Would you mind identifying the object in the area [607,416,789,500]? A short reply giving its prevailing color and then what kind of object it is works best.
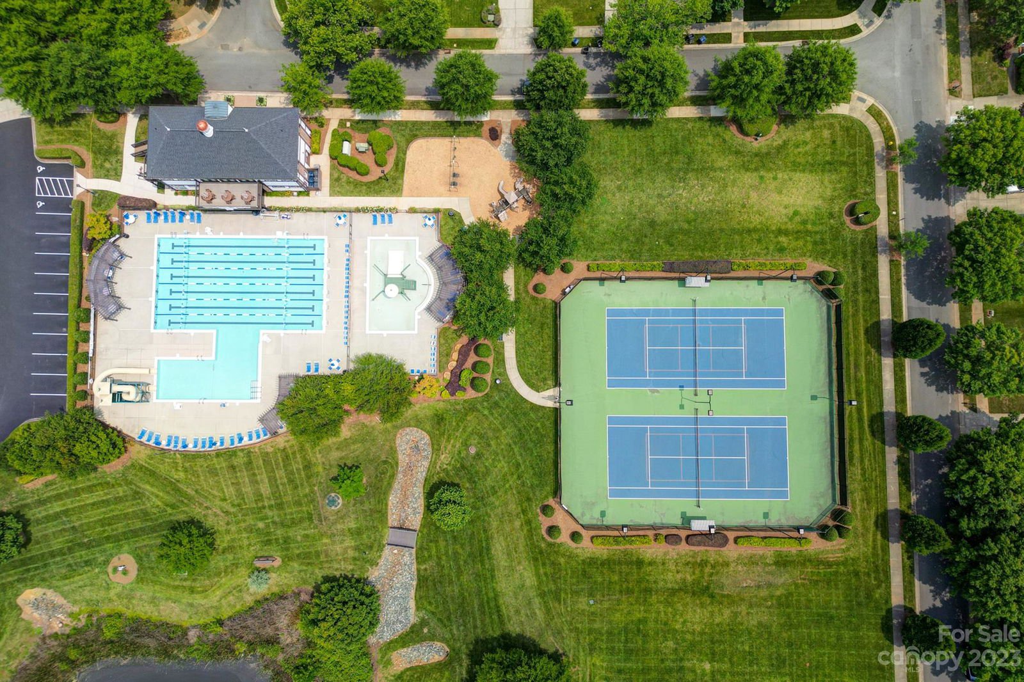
blue tennis court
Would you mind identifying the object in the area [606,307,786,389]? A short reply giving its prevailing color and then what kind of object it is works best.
blue tennis court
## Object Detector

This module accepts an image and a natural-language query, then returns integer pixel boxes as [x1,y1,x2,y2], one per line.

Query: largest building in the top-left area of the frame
[131,99,311,213]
